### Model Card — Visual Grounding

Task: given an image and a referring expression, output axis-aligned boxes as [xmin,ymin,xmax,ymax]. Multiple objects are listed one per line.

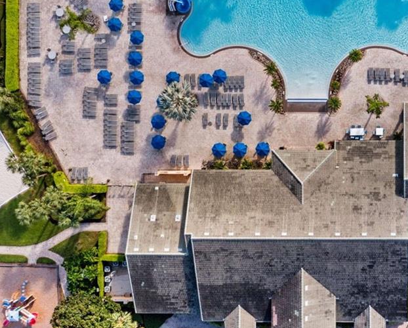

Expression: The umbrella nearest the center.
[212,142,227,157]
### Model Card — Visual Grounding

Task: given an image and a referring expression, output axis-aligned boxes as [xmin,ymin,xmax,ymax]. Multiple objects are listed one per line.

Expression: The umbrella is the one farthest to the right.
[256,141,271,157]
